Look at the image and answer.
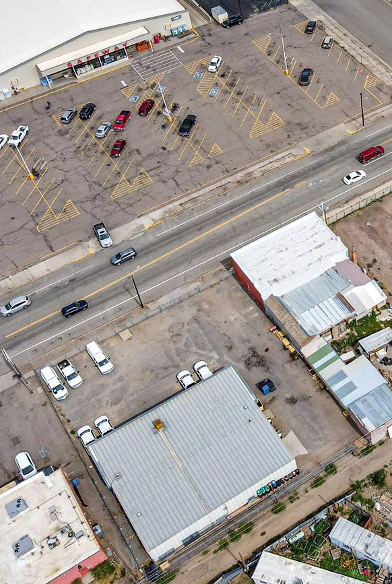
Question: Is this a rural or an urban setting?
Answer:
urban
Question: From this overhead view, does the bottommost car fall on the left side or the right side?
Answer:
left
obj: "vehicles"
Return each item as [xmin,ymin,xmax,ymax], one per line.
[94,121,114,139]
[112,109,134,132]
[55,357,81,388]
[109,138,129,158]
[0,134,11,148]
[296,66,315,85]
[77,101,99,120]
[208,56,223,72]
[177,368,196,388]
[302,18,319,35]
[92,222,113,247]
[43,364,67,398]
[59,299,91,318]
[194,359,213,379]
[0,294,32,315]
[94,411,114,435]
[110,245,138,266]
[76,422,96,456]
[357,145,386,162]
[59,107,78,124]
[178,114,198,136]
[15,450,38,481]
[221,14,244,29]
[87,339,113,371]
[342,170,368,185]
[7,125,32,147]
[137,98,156,117]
